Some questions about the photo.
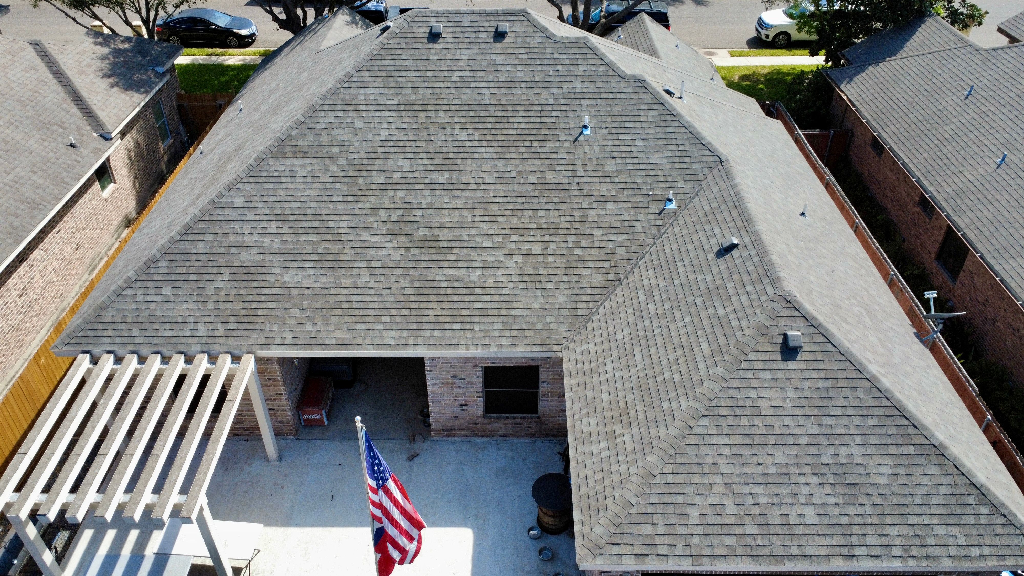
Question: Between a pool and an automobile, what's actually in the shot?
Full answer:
Of the two, only an automobile appears.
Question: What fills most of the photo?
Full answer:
The scene is dominated by buildings.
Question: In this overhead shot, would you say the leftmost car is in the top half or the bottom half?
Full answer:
Seen from above, the leftmost car lies in the top half of the view.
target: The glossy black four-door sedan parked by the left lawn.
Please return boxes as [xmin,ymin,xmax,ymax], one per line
[159,10,269,48]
